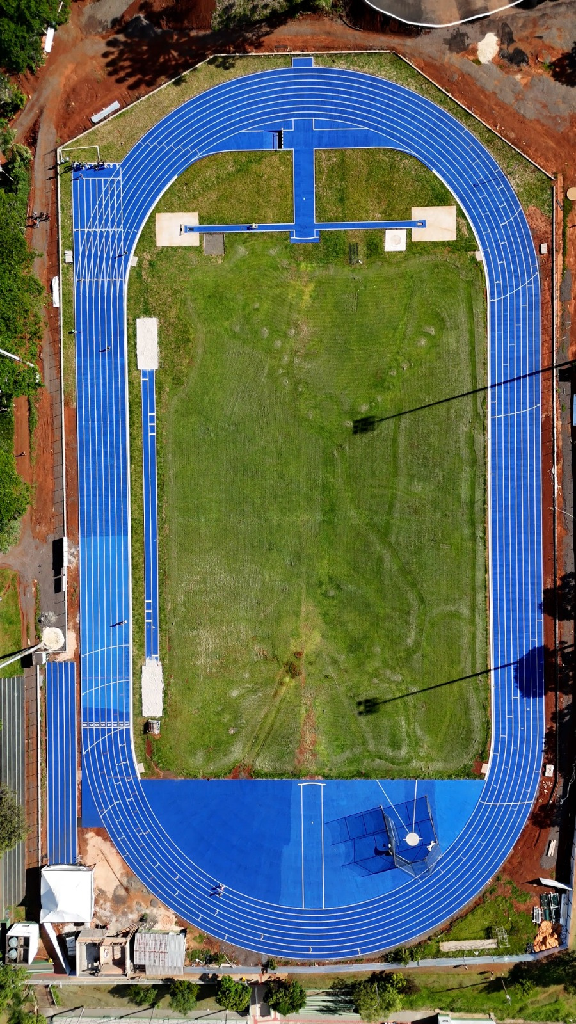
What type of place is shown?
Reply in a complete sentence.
It's a sports ground.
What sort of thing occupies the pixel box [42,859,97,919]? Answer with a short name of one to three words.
tent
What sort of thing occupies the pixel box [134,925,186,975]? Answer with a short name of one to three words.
shed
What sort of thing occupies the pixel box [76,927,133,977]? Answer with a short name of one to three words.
building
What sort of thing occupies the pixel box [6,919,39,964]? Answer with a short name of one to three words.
house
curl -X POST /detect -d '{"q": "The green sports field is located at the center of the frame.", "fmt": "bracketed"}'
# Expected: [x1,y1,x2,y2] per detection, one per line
[129,148,493,778]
